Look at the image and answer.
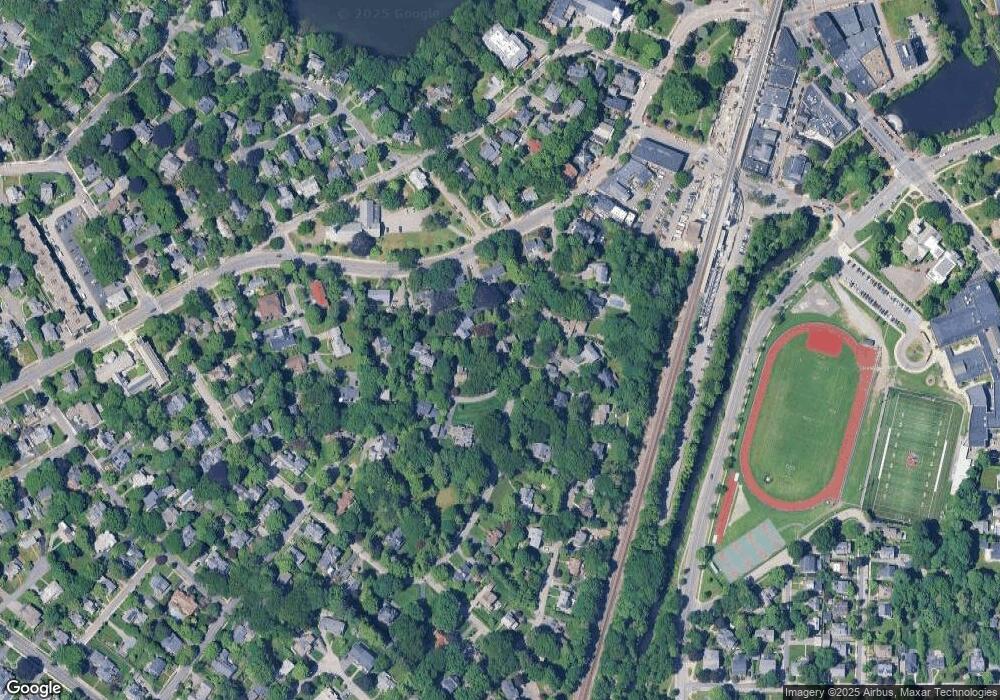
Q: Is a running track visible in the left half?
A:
No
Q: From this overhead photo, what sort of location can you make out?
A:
residential area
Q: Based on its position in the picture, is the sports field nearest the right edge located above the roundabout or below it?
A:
below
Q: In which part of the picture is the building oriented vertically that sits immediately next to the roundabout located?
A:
right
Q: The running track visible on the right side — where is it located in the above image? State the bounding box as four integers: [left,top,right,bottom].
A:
[742,321,878,512]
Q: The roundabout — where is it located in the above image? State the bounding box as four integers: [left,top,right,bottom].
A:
[896,334,934,371]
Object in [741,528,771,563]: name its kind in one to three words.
basketball court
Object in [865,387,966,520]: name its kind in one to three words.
sports field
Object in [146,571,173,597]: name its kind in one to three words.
house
